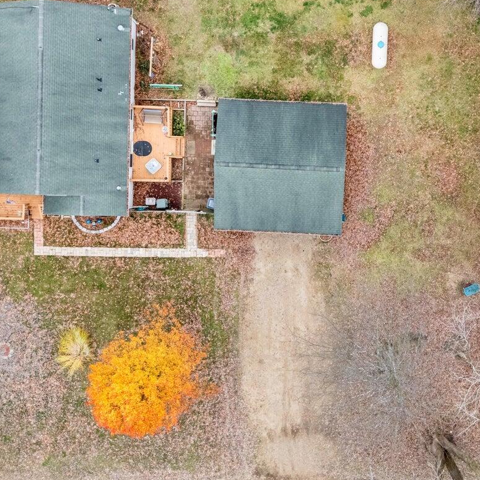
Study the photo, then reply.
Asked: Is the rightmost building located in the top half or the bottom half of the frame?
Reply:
top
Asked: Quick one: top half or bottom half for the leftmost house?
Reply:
top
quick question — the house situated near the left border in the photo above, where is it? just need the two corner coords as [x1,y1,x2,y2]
[0,0,141,218]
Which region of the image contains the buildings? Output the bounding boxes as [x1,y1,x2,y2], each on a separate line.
[0,0,141,218]
[211,97,348,239]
